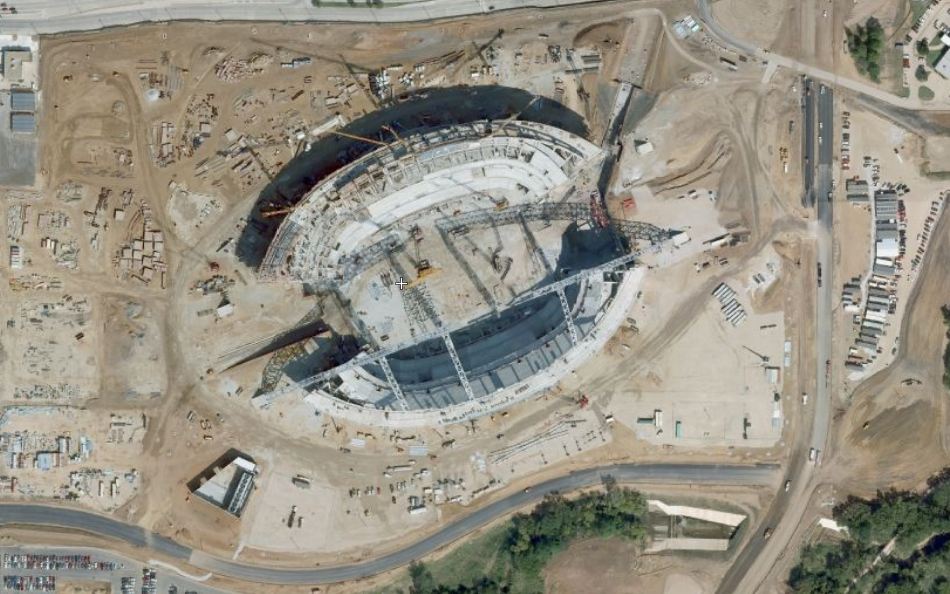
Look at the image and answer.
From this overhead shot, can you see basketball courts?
No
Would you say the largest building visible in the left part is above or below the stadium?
below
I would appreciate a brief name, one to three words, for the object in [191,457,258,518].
building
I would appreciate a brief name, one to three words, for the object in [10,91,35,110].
shed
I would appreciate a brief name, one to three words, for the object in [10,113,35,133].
shed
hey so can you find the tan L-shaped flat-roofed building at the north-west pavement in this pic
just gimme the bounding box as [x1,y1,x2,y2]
[5,51,31,82]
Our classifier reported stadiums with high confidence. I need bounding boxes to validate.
[214,82,680,427]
